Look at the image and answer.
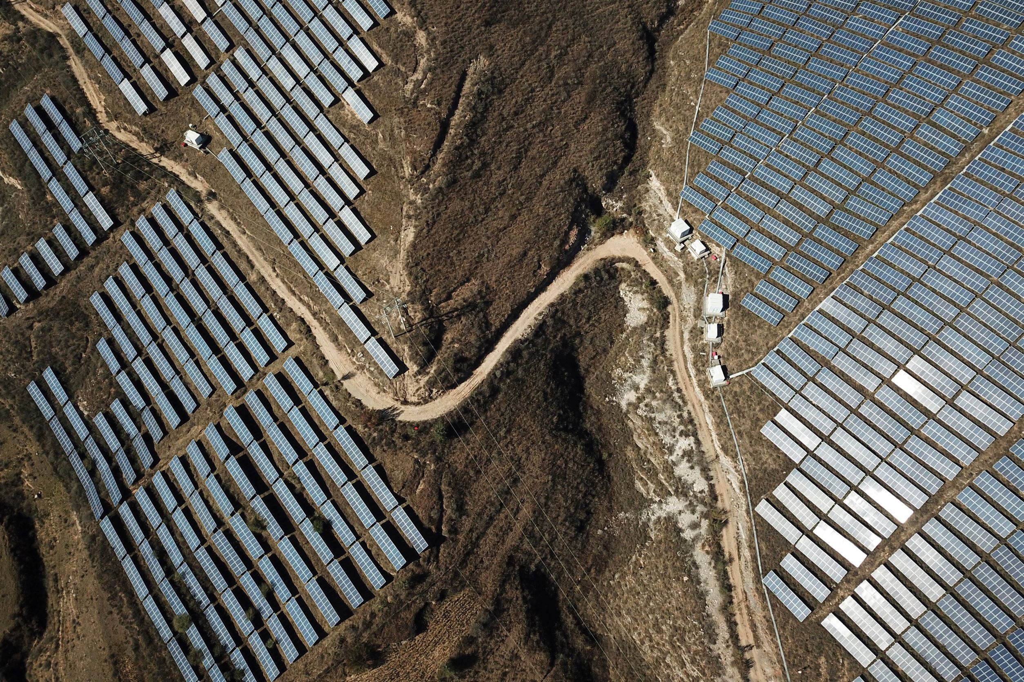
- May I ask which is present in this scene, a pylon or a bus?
pylon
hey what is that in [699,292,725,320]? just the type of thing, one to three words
building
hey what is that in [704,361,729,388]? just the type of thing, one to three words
building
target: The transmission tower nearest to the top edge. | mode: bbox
[78,128,117,172]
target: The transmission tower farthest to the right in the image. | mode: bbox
[378,298,406,338]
